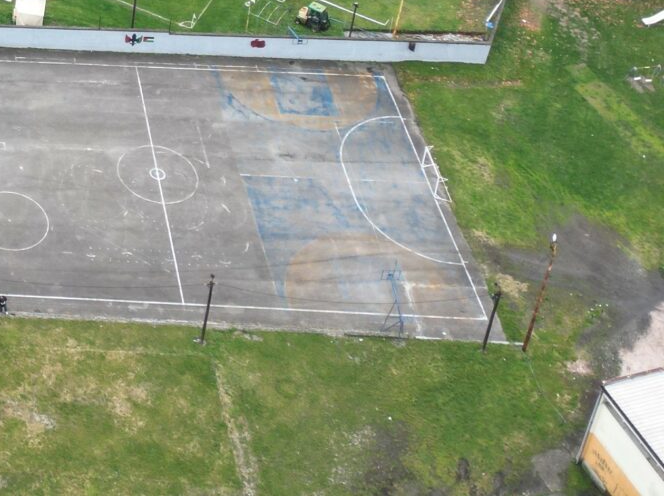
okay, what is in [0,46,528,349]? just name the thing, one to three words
sports court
